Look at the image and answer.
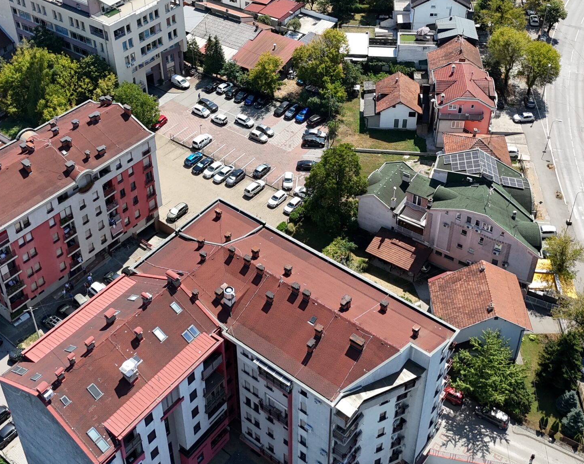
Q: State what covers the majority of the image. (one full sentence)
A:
Most of the picture is covered by buildings.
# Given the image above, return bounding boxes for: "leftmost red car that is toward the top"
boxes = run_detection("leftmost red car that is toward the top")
[152,115,169,130]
